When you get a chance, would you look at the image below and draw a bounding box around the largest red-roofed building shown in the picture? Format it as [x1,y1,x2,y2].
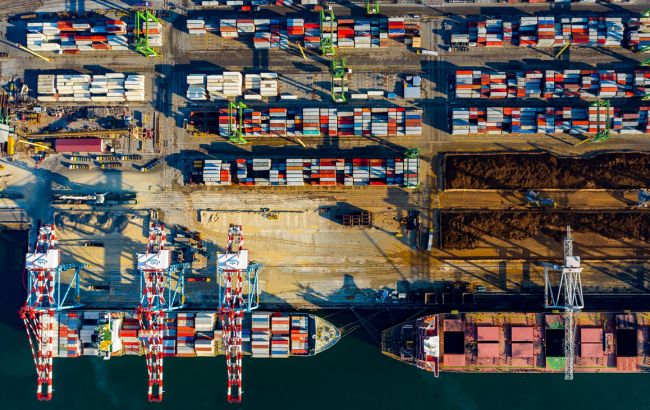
[53,138,103,152]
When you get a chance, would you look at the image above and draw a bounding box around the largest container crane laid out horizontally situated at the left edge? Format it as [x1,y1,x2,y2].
[23,127,143,144]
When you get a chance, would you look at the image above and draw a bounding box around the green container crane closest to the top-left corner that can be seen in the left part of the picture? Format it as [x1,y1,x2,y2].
[136,13,162,58]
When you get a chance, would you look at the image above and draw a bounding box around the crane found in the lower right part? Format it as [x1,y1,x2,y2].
[538,225,590,380]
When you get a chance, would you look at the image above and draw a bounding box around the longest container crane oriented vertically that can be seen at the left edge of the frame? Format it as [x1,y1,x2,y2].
[13,225,93,400]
